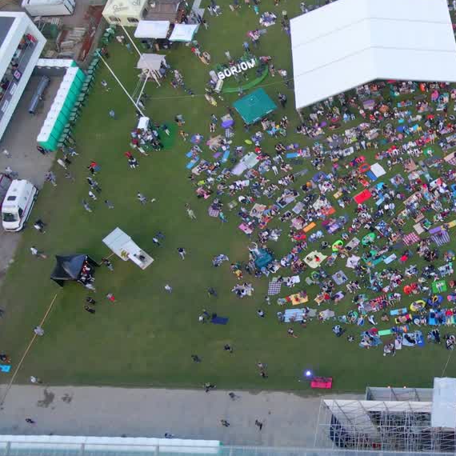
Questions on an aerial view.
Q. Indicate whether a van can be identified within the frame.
Yes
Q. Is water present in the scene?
No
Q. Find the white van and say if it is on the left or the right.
left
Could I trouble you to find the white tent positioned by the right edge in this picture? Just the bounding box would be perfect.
[289,0,456,130]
